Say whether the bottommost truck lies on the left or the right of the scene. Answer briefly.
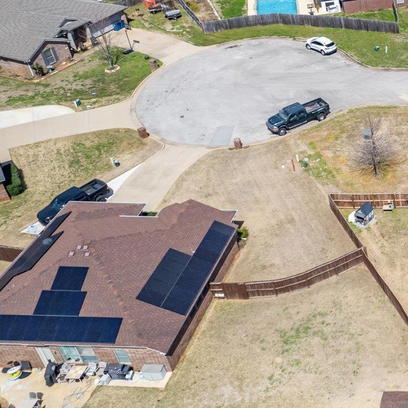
left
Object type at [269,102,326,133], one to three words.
truck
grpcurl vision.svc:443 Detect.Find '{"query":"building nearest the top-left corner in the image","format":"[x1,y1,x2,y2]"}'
[0,0,130,80]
